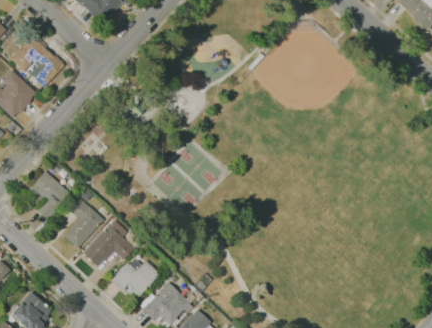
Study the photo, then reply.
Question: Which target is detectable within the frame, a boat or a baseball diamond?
baseball diamond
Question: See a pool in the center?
No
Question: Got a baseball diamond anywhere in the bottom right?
No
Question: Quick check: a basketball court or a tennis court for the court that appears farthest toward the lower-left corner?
basketball court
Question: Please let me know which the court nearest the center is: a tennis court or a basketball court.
basketball court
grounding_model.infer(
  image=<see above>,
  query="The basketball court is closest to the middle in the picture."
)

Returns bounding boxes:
[174,142,223,192]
